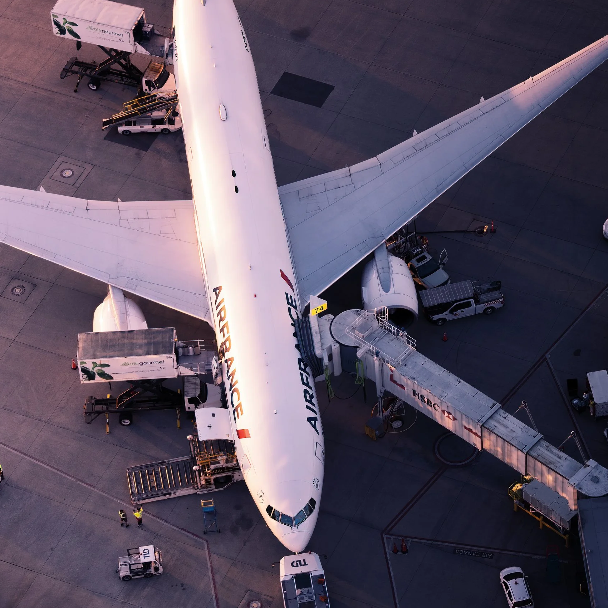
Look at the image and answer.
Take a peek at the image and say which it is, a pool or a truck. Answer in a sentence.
I can see a truck in this picture.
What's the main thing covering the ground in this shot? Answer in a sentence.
The scene is dominated by paved ground.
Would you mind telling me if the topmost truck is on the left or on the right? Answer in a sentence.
It is on the left.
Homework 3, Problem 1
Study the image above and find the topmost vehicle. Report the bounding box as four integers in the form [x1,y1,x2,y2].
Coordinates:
[50,0,178,105]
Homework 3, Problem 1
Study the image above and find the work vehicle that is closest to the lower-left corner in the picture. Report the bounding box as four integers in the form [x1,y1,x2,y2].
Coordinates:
[112,545,164,582]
